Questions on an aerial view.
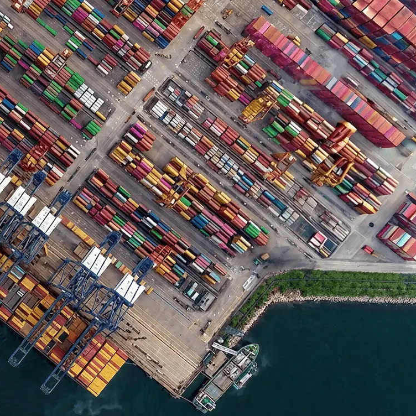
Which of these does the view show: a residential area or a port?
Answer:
port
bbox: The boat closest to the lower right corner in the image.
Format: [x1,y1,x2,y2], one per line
[232,363,258,392]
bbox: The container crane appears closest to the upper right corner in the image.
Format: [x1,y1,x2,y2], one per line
[317,118,362,158]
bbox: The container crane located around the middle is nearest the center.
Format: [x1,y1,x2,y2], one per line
[152,166,204,215]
